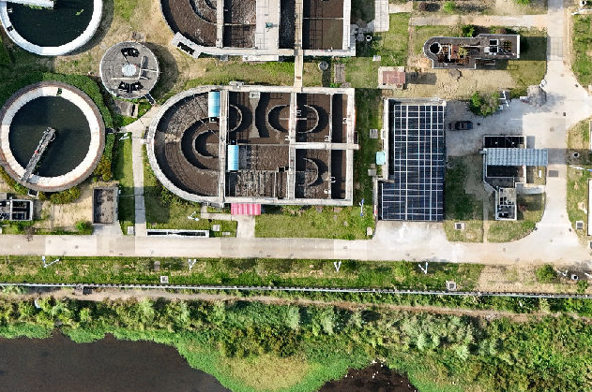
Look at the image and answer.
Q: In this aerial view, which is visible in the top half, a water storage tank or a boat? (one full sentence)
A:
It is a water storage tank that can be seen in the top half.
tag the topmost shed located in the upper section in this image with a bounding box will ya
[379,67,406,89]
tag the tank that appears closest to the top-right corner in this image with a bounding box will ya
[421,33,520,69]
